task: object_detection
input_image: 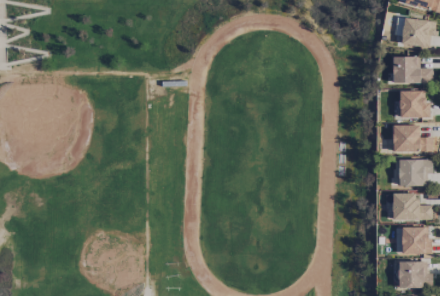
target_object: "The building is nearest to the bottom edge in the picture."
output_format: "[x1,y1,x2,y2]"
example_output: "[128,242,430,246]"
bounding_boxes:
[399,261,433,288]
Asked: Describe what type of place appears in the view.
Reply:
sports ground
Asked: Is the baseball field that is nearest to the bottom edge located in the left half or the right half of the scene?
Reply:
left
